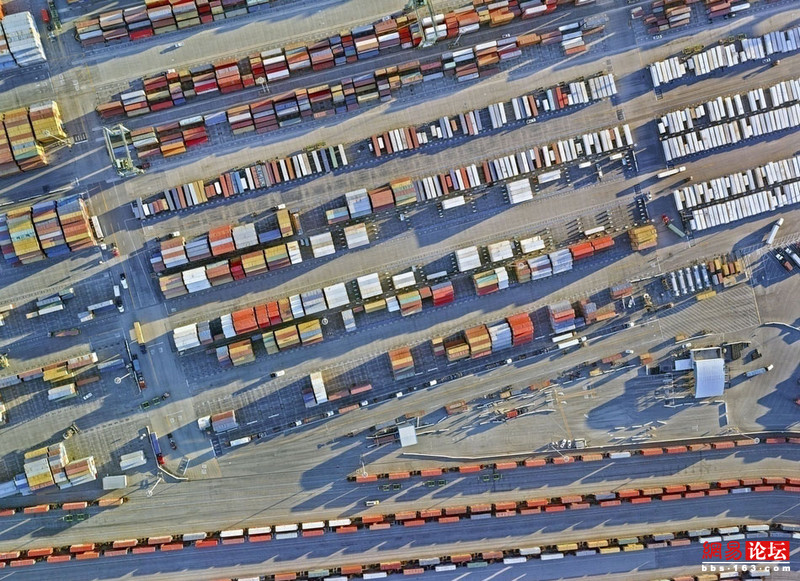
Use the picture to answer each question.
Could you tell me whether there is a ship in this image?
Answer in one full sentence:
No, I find no ship anywhere in the image.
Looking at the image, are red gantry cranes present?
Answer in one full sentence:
No, there is no red gantry crane in the image.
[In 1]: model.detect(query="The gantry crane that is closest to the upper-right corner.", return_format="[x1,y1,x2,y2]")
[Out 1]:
[406,0,441,53]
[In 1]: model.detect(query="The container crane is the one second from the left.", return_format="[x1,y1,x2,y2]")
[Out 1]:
[102,122,148,179]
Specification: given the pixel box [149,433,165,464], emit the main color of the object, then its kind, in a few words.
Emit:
blue vehicle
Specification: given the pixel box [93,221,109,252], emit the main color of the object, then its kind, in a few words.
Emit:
white vehicle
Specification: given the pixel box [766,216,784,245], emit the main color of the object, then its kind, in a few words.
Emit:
white vehicle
